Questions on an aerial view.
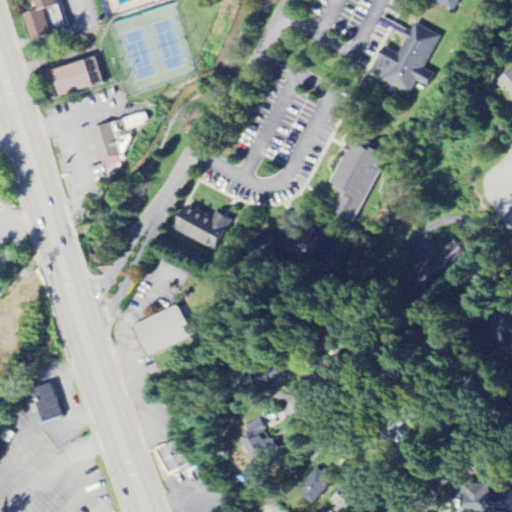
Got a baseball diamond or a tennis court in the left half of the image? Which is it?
tennis court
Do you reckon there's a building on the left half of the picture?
Yes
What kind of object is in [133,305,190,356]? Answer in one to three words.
building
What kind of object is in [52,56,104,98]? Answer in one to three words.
house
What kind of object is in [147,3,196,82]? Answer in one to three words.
tennis court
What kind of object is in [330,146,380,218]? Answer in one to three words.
building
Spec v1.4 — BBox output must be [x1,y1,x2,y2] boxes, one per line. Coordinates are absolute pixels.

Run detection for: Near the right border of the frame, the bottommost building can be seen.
[461,482,490,512]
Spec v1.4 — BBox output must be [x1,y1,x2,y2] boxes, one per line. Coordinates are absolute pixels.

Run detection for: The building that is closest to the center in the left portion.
[174,206,233,250]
